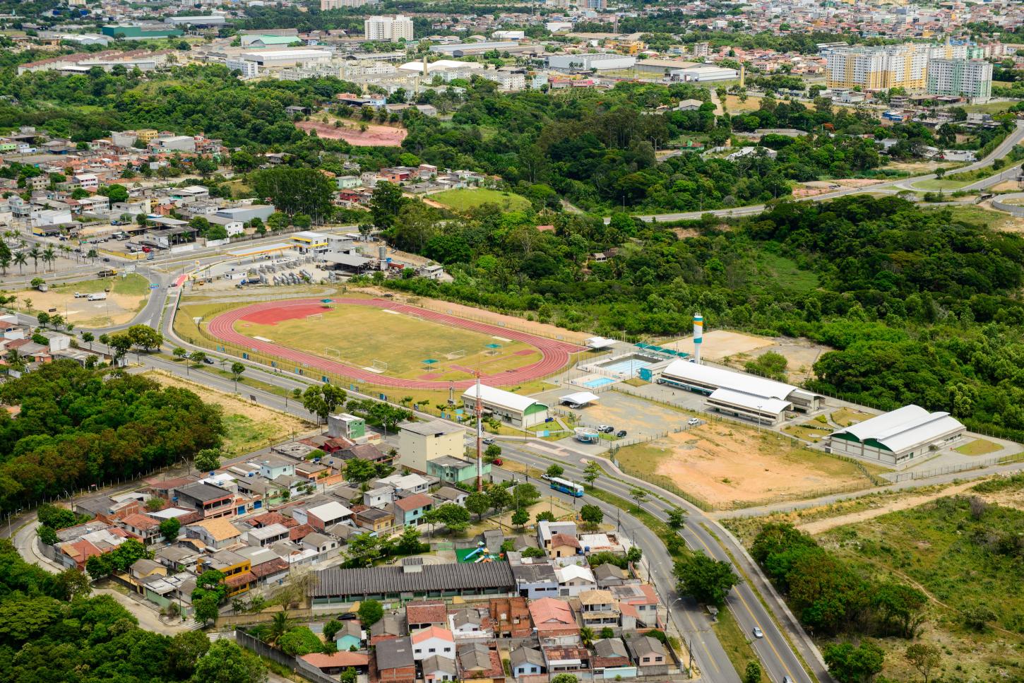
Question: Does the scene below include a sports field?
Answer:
Yes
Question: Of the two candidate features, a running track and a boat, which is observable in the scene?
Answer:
running track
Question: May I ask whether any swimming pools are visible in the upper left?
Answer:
No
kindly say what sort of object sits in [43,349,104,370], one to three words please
house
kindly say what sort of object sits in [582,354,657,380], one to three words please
swimming pool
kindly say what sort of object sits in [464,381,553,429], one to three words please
building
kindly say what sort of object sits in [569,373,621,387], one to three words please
swimming pool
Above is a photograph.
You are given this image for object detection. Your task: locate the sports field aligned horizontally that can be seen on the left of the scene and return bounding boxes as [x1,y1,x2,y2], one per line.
[233,303,543,381]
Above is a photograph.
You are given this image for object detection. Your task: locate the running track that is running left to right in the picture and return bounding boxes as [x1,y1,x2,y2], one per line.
[207,298,617,389]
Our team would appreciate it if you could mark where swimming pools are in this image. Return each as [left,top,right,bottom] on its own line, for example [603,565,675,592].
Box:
[582,354,657,380]
[569,373,621,387]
